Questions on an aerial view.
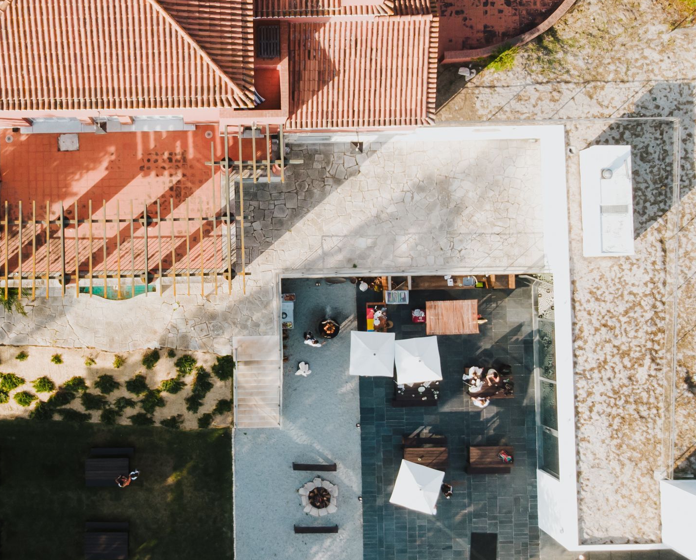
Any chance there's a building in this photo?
Yes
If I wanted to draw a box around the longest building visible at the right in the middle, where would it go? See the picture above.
[419,125,666,551]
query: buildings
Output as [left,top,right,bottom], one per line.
[0,0,449,144]
[419,125,666,551]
